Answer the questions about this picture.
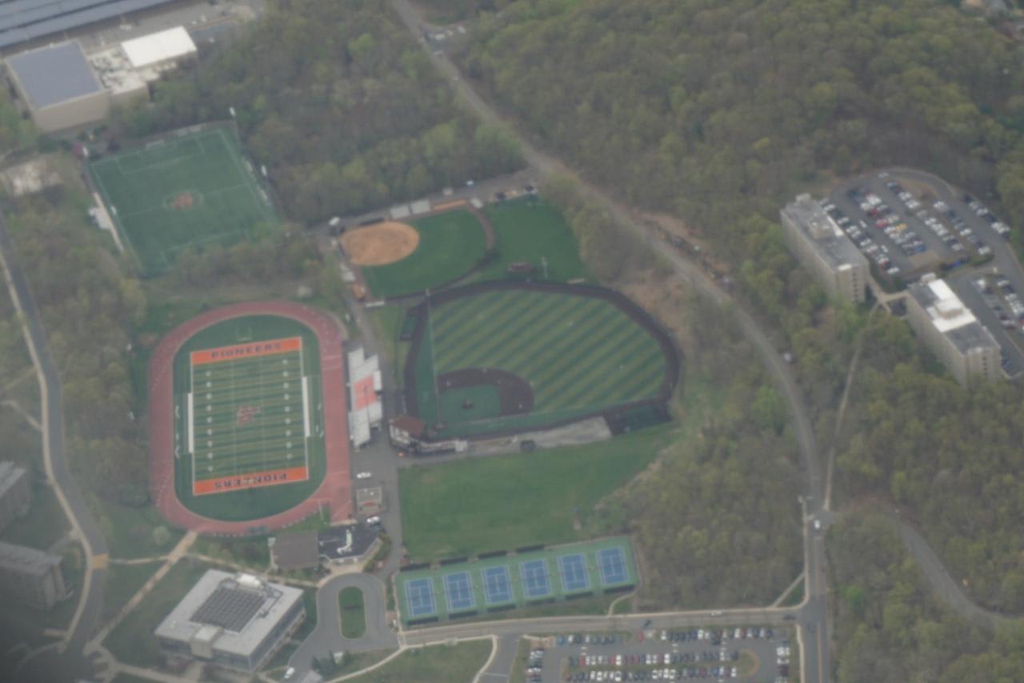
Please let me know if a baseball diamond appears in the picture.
Yes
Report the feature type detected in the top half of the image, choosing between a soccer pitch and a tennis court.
soccer pitch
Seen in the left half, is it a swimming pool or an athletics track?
athletics track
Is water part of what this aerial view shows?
No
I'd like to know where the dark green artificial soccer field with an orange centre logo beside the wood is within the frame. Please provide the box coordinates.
[87,121,284,275]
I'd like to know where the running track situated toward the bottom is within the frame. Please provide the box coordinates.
[150,300,358,538]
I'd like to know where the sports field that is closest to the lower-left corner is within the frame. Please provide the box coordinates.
[175,315,326,522]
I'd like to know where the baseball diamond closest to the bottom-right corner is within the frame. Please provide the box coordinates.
[405,280,680,443]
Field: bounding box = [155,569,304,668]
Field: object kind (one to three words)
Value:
building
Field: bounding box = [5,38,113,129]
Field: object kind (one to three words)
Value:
building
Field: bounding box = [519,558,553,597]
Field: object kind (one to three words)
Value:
tennis court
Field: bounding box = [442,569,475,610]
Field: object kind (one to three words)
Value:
tennis court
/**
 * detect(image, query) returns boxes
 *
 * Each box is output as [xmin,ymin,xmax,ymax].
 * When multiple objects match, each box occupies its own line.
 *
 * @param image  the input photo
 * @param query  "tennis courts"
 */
[557,552,591,591]
[595,546,630,585]
[404,575,437,616]
[481,564,514,603]
[519,558,553,597]
[442,569,475,610]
